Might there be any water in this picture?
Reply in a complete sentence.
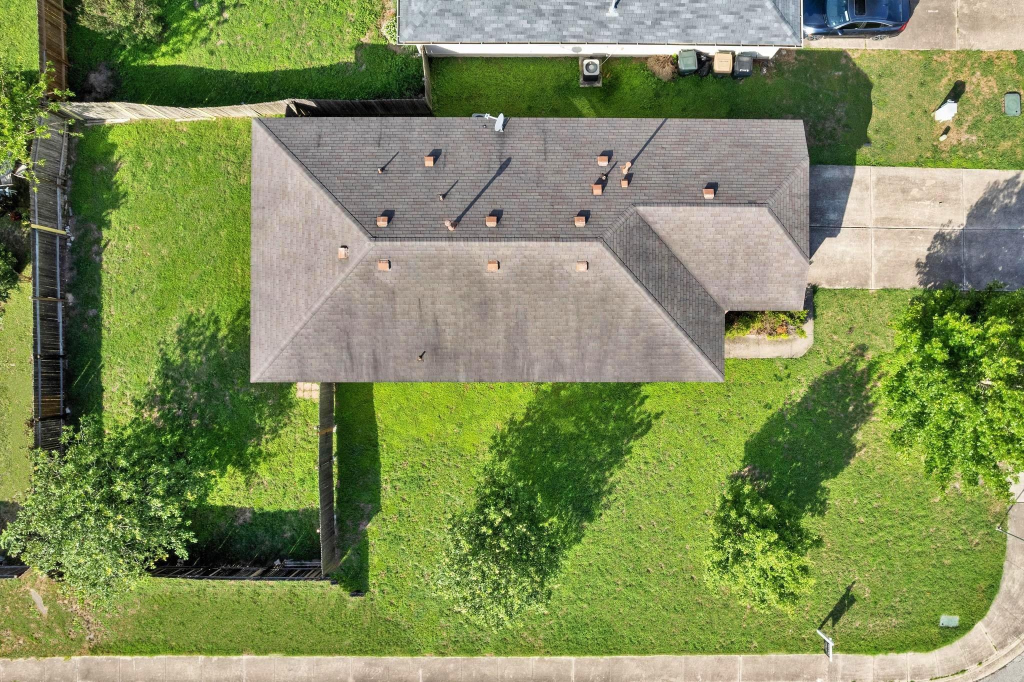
No, there's no water in this view.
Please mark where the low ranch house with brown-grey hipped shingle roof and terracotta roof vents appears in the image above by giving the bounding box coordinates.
[250,118,810,383]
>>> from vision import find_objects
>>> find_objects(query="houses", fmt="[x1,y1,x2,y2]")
[397,0,801,56]
[250,118,810,383]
